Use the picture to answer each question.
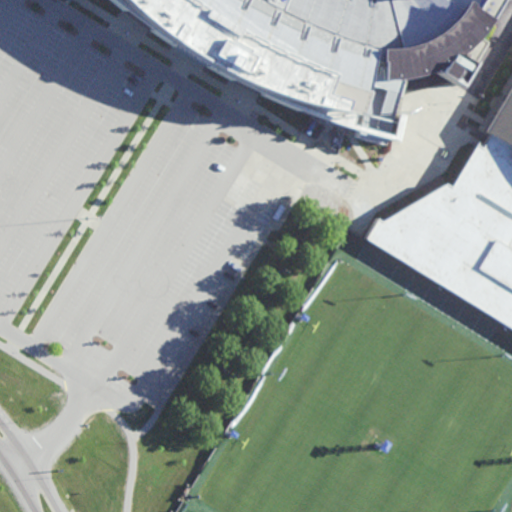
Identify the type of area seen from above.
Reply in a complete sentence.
This looks like a sports ground.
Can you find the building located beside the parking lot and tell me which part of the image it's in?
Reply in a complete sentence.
The building located beside the parking lot is located in the right region of the scene.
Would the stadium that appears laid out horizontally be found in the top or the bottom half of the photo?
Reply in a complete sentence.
It is in the top half that the stadium that appears laid out horizontally appears.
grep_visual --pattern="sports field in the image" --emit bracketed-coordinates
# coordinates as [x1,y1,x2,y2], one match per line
[179,250,512,512]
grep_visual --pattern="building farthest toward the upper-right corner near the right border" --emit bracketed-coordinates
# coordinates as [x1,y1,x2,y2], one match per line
[364,78,512,330]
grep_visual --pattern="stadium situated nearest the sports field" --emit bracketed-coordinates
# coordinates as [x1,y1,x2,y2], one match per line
[108,0,512,149]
